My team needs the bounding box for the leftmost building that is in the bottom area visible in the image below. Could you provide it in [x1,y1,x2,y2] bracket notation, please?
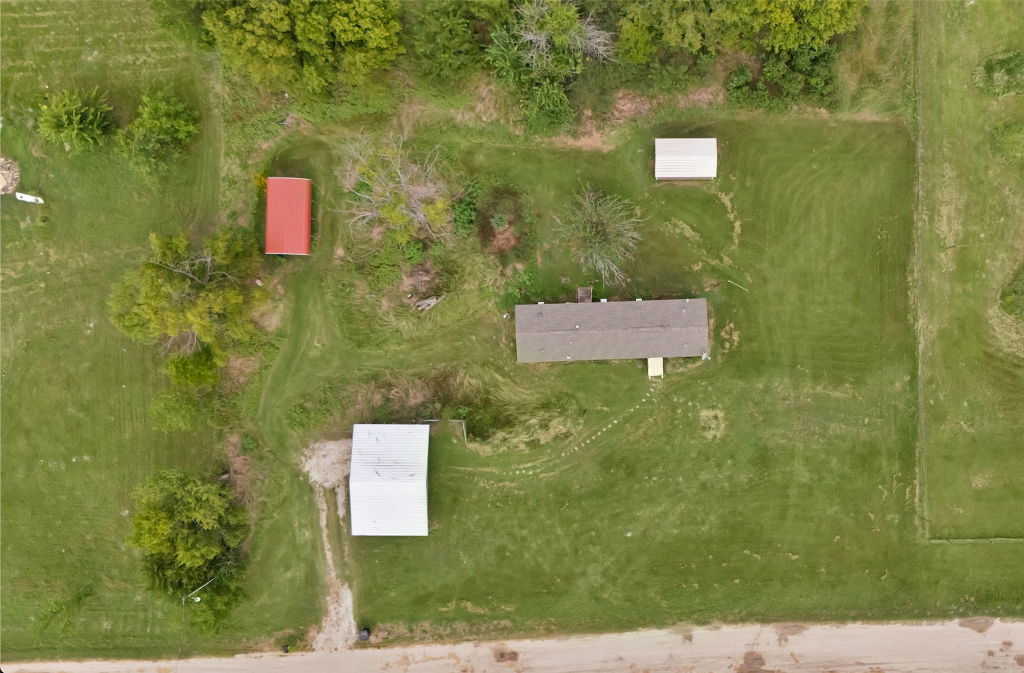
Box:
[349,423,430,536]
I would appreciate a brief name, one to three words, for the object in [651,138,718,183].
shed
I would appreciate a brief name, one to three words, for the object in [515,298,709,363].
house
